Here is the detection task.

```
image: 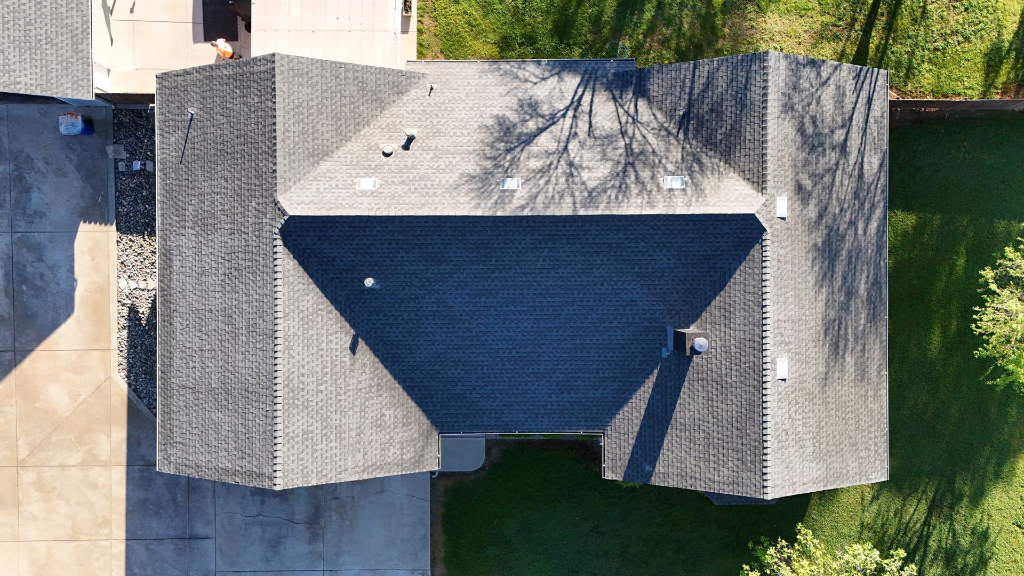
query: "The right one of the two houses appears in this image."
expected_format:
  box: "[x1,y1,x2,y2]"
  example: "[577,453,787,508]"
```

[153,49,891,504]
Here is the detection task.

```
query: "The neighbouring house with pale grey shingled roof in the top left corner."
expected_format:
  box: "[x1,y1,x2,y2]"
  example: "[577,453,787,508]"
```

[0,0,115,110]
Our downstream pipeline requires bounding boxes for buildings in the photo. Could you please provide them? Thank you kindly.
[153,49,891,504]
[0,0,115,110]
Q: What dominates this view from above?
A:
buildings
